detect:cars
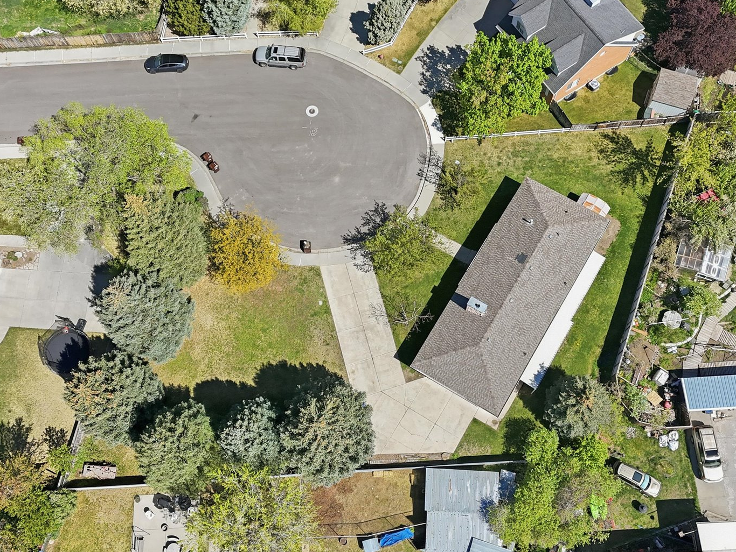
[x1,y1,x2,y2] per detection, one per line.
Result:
[251,42,306,69]
[141,49,188,72]
[609,456,662,500]
[692,426,725,483]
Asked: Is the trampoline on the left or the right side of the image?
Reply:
left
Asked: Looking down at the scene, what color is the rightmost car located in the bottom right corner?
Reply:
white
